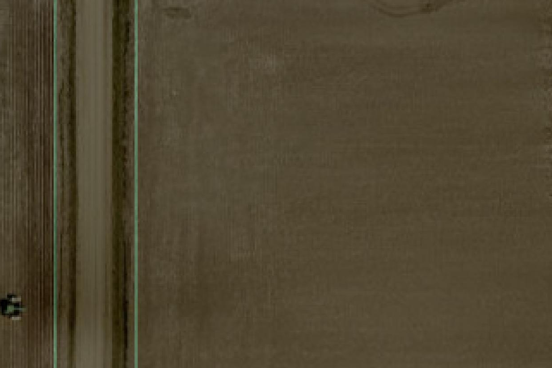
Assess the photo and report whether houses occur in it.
No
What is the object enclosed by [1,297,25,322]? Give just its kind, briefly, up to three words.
work vehicle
